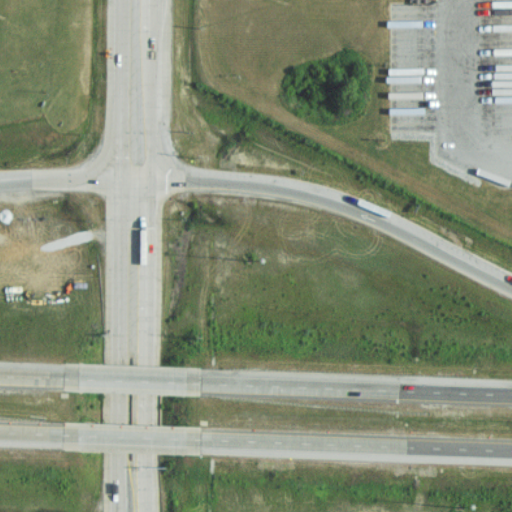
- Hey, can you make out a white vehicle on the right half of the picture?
Yes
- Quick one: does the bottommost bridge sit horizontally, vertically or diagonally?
horizontally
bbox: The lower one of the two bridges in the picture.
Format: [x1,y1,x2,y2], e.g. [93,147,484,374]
[65,422,201,456]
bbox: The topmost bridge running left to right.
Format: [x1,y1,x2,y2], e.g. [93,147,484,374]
[65,363,201,398]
